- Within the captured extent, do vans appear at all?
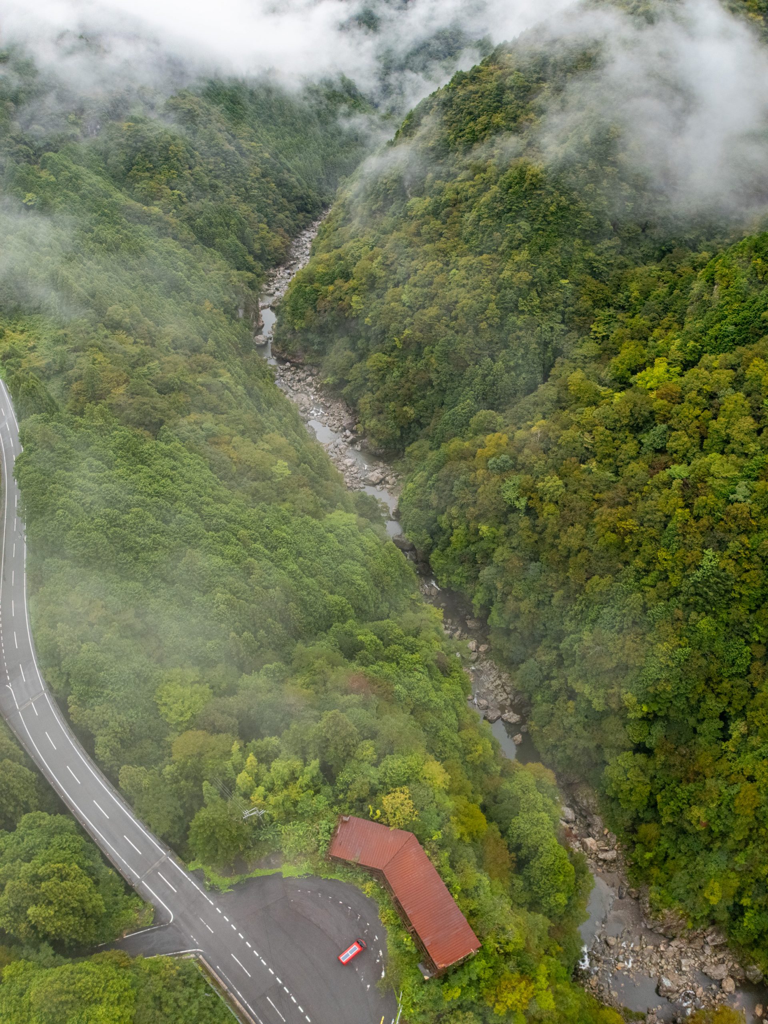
Yes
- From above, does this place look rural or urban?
rural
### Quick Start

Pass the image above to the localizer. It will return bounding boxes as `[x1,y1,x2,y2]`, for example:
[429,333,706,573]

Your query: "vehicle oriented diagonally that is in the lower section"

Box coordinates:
[339,938,367,967]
